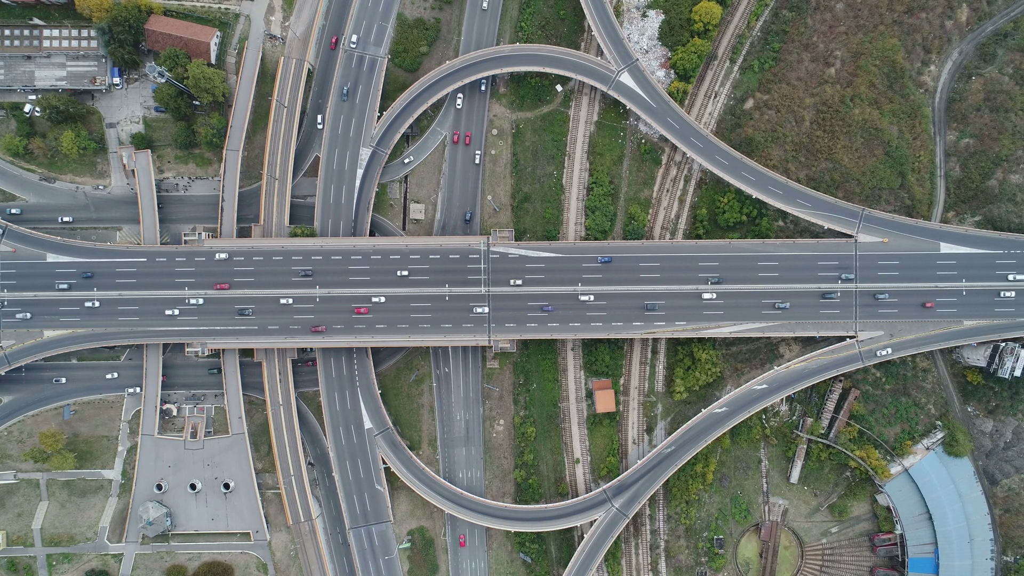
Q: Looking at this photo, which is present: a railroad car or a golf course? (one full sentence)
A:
Visible in the photo is a railroad car.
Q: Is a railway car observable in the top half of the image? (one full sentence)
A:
No, no railway car is visible in the top half of the image.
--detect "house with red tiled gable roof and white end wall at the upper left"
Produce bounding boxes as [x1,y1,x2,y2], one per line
[144,15,224,65]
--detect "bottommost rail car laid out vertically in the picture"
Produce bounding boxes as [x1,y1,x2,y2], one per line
[785,415,813,483]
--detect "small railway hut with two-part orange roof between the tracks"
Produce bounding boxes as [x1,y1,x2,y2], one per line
[589,379,616,413]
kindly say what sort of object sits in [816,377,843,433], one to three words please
rail car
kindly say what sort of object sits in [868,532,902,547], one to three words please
rail car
